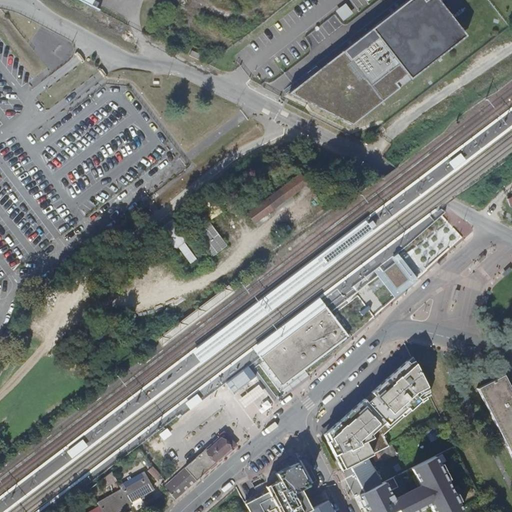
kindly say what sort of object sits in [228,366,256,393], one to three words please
shed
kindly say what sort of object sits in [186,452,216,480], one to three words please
building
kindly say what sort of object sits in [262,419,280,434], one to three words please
vehicle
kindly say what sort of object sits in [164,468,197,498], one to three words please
house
